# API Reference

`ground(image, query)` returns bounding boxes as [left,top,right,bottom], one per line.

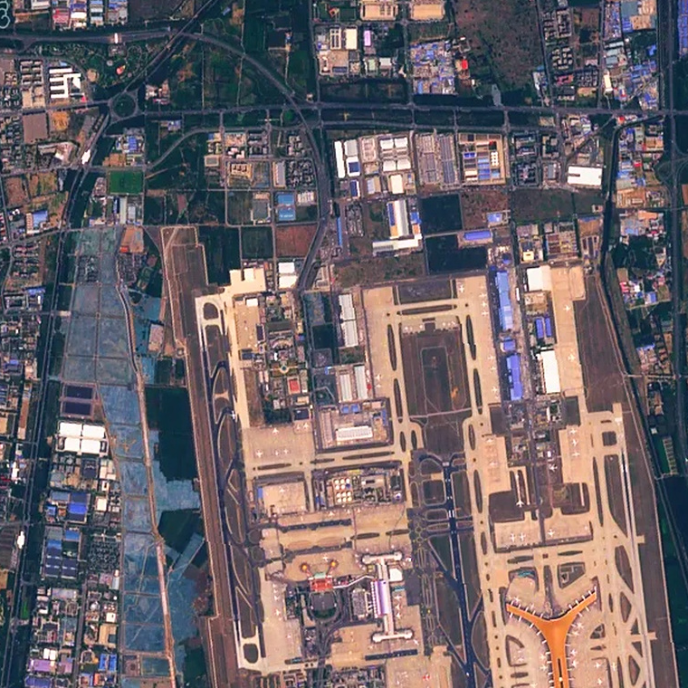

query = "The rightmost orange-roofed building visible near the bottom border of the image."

[507,586,597,688]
